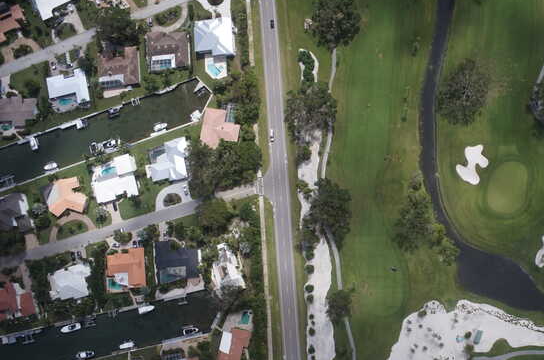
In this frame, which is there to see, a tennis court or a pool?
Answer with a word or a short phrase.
pool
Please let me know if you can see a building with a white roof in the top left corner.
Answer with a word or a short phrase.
Yes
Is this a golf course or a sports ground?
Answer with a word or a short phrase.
golf course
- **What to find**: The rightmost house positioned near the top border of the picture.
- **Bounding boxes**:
[193,17,234,57]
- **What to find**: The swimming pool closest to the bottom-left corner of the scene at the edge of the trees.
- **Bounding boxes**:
[106,276,131,294]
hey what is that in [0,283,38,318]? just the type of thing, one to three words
house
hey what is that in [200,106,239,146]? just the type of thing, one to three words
house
